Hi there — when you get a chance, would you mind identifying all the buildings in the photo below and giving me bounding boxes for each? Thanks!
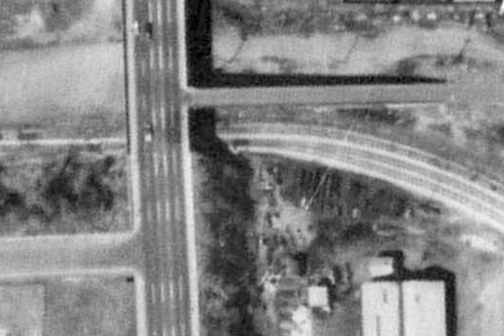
[309,285,329,309]
[403,278,446,336]
[360,281,401,336]
[370,256,394,277]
